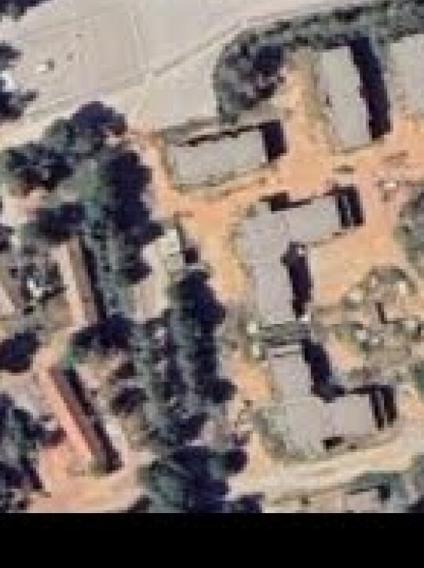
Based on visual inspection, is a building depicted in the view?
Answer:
Yes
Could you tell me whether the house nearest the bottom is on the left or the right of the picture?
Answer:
right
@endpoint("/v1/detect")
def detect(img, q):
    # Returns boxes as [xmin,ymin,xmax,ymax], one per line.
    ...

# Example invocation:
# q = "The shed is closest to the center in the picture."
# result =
[151,232,182,272]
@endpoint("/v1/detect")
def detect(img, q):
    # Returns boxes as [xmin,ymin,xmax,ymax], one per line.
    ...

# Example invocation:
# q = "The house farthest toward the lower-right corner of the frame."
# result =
[347,492,386,514]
